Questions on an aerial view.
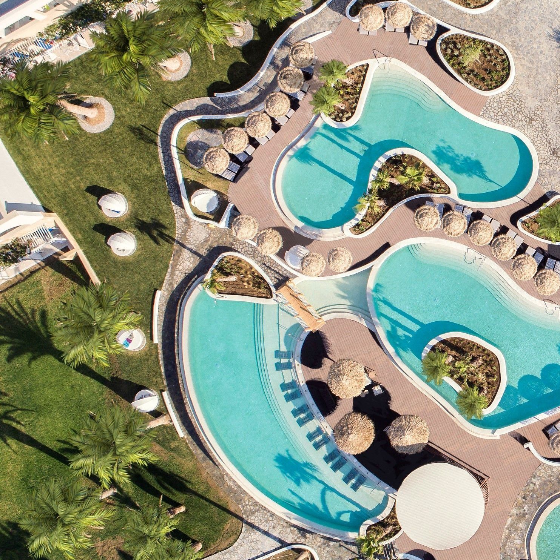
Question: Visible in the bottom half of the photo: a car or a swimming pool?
swimming pool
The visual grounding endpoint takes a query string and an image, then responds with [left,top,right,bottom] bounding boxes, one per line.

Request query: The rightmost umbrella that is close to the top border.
[411,15,437,41]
